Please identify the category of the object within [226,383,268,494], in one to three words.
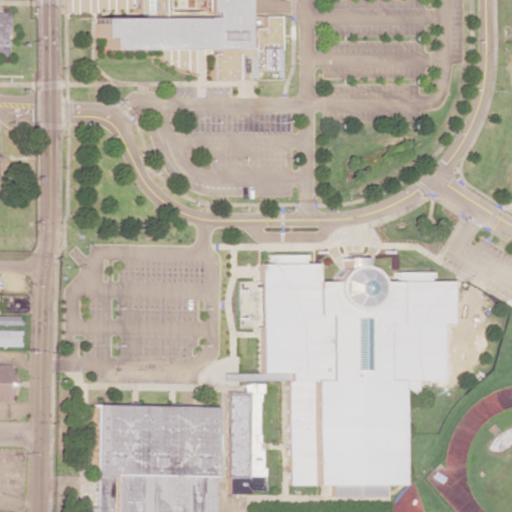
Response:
building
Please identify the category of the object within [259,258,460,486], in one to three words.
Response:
building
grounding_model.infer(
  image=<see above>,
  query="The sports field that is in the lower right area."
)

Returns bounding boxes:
[466,408,512,512]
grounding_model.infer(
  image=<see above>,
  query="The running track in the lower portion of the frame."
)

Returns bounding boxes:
[428,388,512,512]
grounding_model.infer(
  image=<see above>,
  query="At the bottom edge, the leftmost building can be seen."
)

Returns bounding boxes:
[96,405,222,512]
